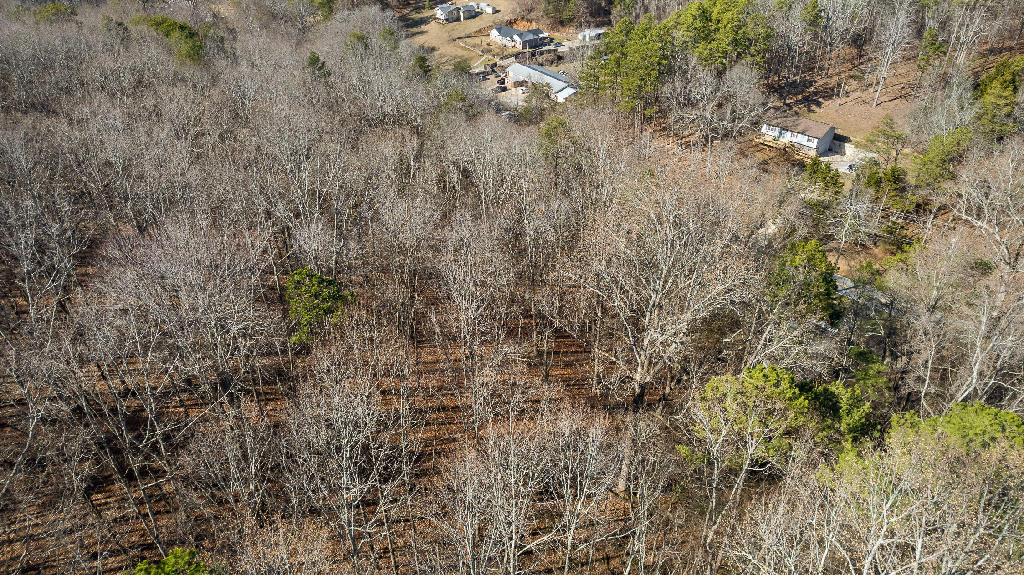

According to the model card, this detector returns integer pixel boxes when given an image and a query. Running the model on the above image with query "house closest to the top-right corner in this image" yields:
[760,112,839,155]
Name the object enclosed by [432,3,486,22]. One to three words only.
house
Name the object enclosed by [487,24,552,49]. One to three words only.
house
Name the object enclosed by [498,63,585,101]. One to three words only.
building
